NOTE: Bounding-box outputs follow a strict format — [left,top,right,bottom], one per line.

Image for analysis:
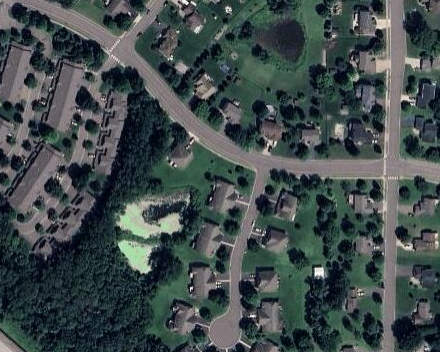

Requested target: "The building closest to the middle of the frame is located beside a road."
[208,182,242,216]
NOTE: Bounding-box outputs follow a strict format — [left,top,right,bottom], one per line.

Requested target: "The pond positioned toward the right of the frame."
[254,18,306,61]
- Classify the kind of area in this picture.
residential area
